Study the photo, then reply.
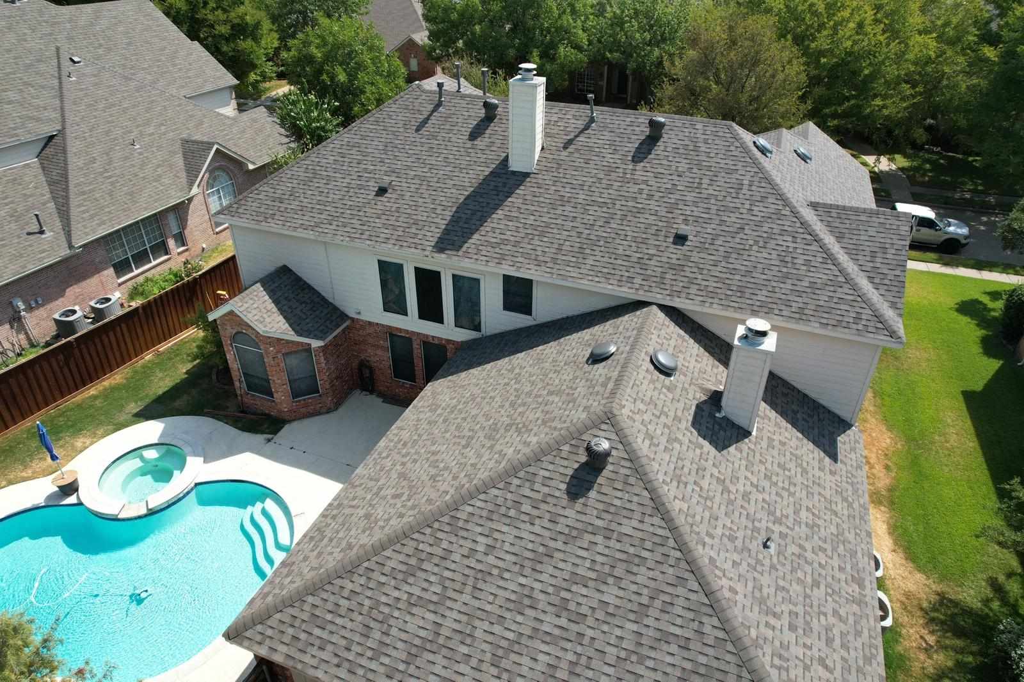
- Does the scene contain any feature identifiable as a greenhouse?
No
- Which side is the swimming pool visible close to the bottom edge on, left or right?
left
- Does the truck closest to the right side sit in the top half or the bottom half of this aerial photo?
top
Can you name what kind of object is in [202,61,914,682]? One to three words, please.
house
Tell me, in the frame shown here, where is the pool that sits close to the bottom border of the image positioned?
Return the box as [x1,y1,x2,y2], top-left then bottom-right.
[0,439,306,682]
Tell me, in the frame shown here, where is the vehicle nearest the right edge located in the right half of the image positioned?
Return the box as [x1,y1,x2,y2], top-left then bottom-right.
[876,194,975,252]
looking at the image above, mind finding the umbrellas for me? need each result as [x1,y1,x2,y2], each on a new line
[35,419,61,478]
